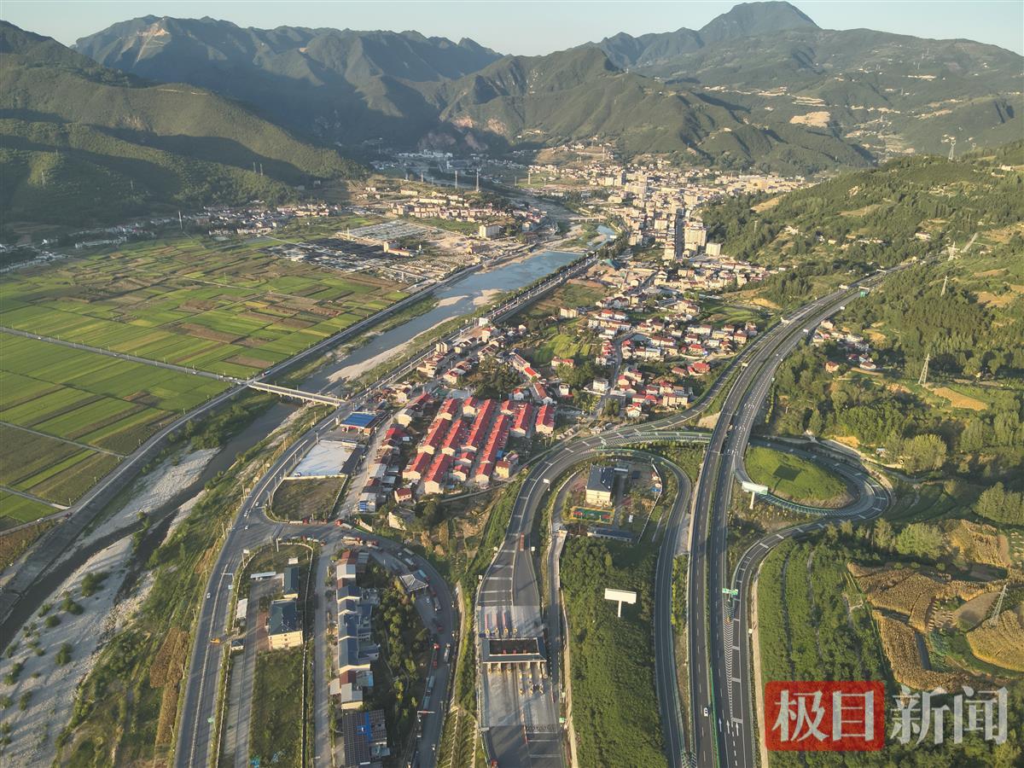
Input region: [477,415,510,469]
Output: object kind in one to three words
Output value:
house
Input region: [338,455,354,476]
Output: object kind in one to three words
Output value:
shed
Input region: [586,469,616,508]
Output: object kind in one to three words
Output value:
building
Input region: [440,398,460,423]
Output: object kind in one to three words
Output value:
house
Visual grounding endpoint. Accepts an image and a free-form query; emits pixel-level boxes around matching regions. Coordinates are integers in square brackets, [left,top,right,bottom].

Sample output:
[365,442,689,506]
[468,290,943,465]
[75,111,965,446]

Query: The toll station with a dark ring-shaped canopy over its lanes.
[477,606,558,754]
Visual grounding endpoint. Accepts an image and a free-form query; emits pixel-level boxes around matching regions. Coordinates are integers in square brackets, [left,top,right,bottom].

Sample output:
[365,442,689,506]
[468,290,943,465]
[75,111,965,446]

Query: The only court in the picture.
[570,504,615,523]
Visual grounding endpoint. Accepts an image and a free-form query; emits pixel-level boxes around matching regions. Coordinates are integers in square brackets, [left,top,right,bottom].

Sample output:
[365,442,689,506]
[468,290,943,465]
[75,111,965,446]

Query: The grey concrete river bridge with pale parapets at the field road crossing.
[239,381,348,406]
